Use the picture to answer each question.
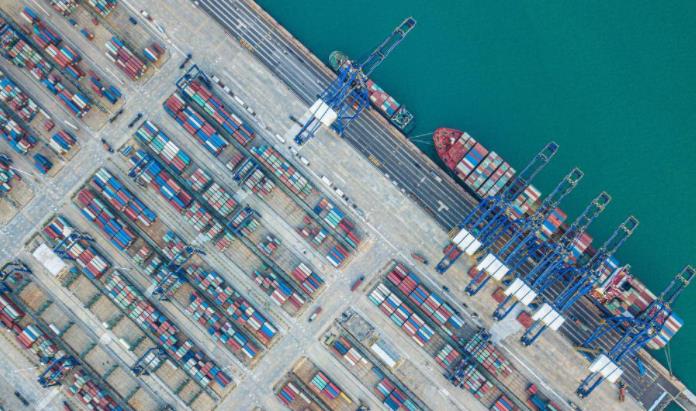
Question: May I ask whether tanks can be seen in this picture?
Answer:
No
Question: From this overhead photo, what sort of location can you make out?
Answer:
port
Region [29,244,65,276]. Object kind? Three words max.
shed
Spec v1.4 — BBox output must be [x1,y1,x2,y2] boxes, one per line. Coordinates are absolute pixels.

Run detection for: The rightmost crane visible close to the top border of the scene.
[292,10,419,147]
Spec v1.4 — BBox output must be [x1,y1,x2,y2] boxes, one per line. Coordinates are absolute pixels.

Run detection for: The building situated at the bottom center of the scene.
[368,335,404,370]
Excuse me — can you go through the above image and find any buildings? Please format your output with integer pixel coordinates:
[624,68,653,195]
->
[368,335,404,370]
[29,244,65,276]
